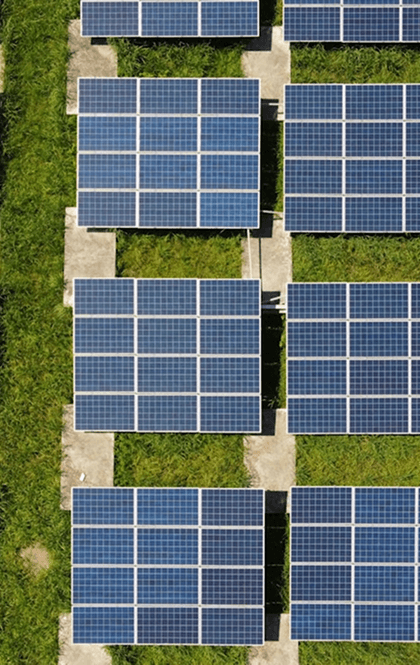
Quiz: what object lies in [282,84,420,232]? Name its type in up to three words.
solar array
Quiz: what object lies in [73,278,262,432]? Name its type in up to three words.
solar array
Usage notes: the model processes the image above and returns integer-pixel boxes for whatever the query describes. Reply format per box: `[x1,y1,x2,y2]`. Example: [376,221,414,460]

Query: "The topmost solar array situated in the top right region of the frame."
[282,0,420,42]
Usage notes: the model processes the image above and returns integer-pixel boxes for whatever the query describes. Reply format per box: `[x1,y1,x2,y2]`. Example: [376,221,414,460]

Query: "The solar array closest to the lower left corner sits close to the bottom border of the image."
[70,487,266,646]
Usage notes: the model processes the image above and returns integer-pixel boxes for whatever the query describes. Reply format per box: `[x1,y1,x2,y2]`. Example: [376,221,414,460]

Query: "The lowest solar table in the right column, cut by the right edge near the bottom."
[289,486,420,642]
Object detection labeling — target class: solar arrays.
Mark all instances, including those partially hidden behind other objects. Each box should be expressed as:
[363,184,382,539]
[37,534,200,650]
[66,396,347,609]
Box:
[80,0,260,37]
[282,84,420,232]
[73,278,262,432]
[70,487,266,646]
[76,77,262,228]
[282,0,420,42]
[285,282,420,434]
[289,486,420,642]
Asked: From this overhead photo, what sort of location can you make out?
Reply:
solar farm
